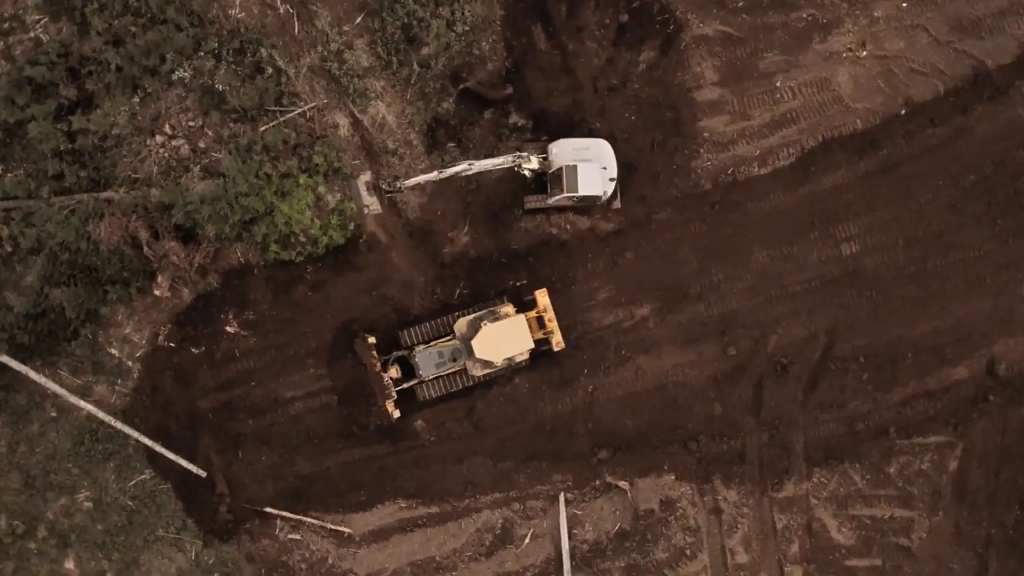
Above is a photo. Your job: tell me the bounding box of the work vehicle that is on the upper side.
[358,138,620,215]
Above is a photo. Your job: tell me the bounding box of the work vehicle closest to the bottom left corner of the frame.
[356,289,565,422]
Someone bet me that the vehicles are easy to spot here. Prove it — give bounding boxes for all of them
[358,138,620,215]
[356,289,565,422]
